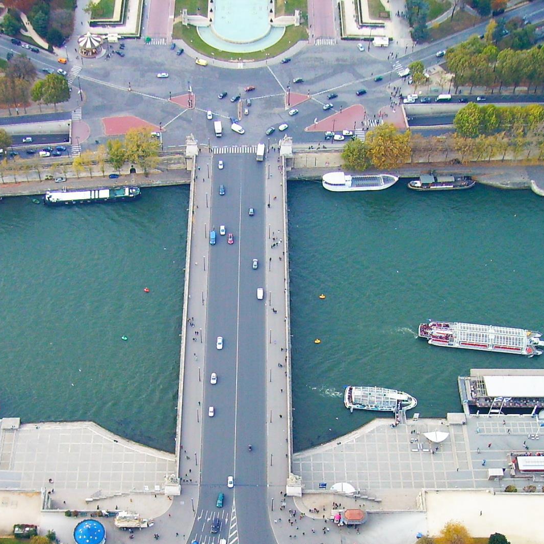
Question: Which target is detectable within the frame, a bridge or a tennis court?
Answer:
bridge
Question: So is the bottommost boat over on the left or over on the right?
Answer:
right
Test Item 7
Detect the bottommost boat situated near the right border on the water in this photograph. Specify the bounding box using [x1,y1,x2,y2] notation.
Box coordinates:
[419,320,544,360]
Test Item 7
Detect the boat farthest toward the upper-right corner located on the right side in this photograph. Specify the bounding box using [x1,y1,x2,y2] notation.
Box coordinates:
[405,173,478,191]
